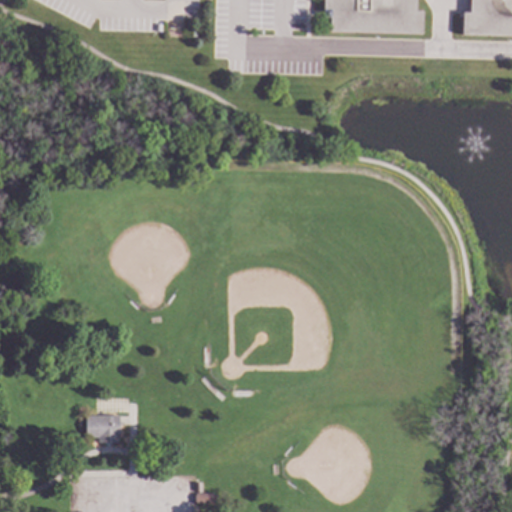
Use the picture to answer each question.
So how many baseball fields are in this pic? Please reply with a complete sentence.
My tally gives 3 baseball fields in this view.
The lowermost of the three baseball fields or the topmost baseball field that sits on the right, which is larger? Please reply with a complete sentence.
The topmost baseball field that sits on the right takes up more space than the lowermost of the three baseball fields does.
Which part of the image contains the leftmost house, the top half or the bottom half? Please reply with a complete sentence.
The bottom half of the photo is where the leftmost house is.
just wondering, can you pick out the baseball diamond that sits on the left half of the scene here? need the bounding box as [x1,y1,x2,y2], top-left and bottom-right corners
[111,222,190,308]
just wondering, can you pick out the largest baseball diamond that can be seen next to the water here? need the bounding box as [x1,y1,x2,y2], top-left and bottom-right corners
[214,164,460,415]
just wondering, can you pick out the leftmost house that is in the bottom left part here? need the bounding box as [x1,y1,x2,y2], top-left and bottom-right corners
[86,415,119,444]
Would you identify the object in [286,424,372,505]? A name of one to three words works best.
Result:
baseball field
